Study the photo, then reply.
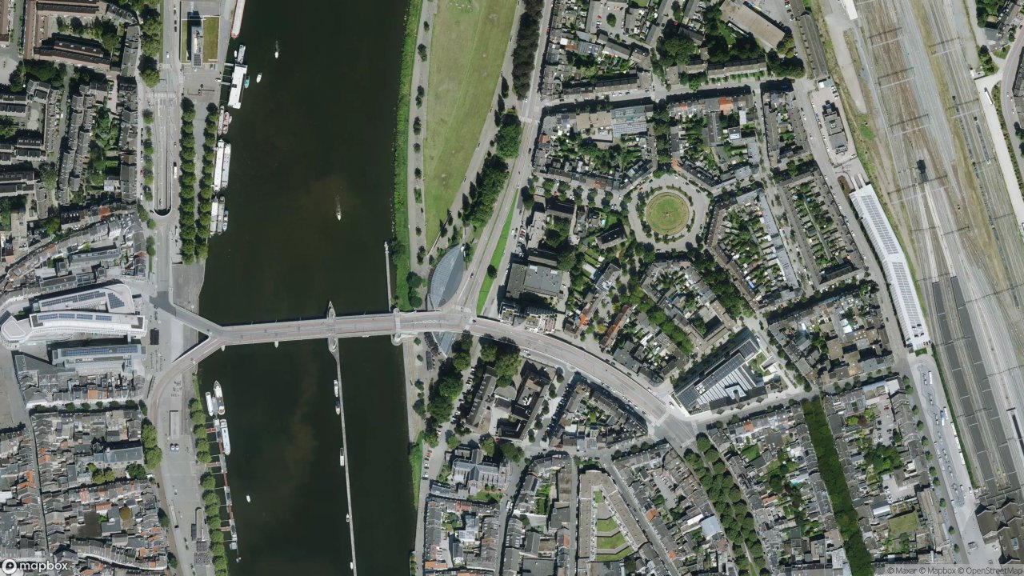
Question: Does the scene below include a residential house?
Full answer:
Yes, you can see a residential house in this photo.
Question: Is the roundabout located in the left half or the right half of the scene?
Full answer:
You can find the roundabout on the right side of the picture.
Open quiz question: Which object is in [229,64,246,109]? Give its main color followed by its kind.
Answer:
white boat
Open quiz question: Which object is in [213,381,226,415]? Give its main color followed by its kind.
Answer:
white boat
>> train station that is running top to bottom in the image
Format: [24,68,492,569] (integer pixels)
[932,276,1024,576]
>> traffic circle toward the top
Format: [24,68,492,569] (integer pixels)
[641,187,693,239]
